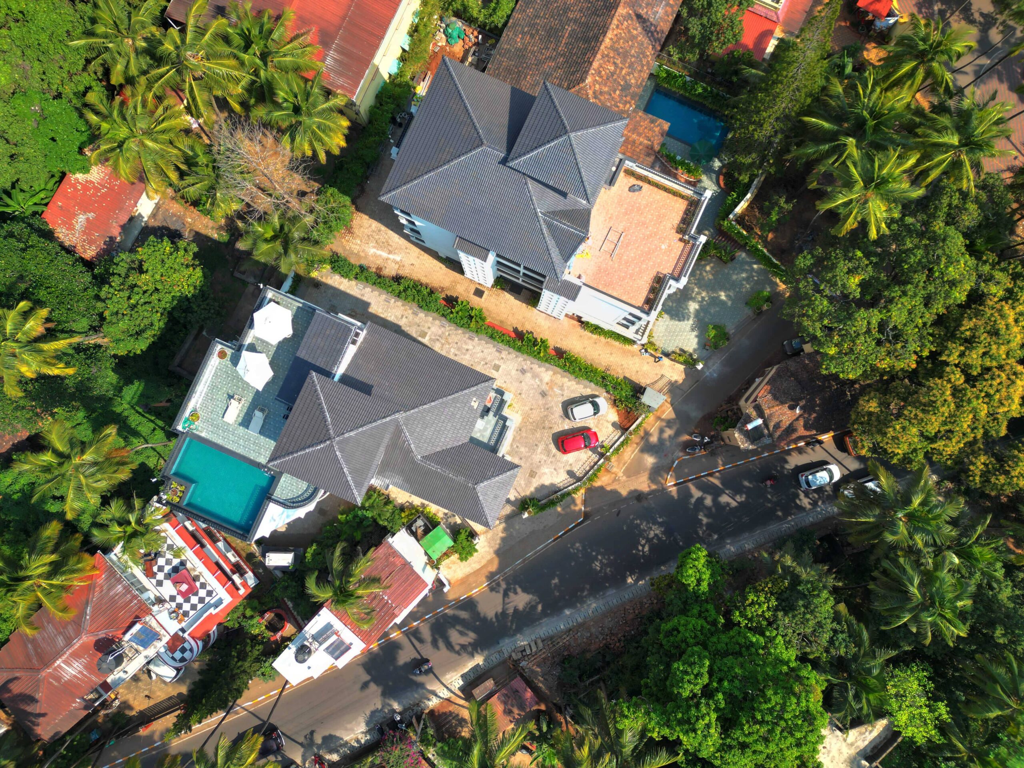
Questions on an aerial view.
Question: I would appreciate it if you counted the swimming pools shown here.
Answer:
2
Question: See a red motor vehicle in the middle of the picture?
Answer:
Yes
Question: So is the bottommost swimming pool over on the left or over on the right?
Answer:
left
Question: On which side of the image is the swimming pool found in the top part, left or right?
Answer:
right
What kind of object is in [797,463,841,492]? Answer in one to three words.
car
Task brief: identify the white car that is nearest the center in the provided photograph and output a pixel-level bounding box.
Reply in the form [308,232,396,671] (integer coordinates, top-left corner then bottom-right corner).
[567,396,608,422]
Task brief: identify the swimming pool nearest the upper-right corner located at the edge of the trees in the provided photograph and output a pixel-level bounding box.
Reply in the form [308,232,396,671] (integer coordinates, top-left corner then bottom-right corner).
[641,83,737,166]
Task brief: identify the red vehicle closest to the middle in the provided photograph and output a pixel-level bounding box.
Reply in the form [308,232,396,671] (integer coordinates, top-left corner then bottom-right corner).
[558,428,599,454]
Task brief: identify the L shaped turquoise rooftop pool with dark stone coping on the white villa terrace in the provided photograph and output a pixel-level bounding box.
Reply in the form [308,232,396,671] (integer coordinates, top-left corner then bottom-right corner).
[171,438,275,534]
